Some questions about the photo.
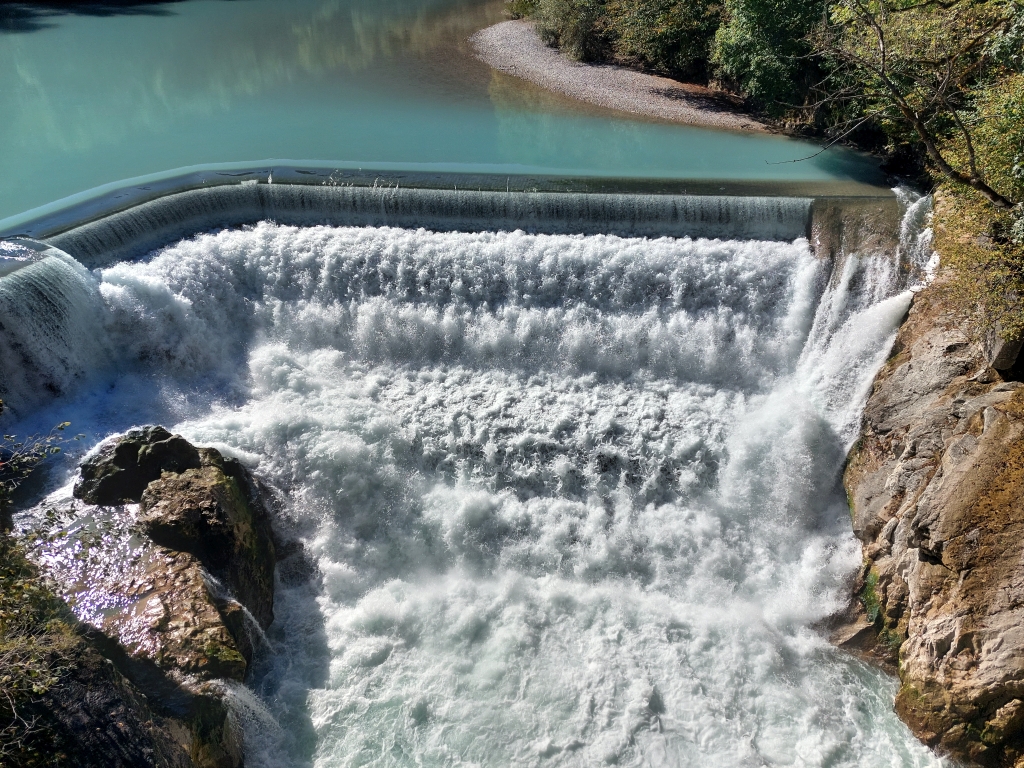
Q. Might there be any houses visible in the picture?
No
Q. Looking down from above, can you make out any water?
Yes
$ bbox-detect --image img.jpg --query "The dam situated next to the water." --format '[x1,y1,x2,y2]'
[0,170,912,284]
